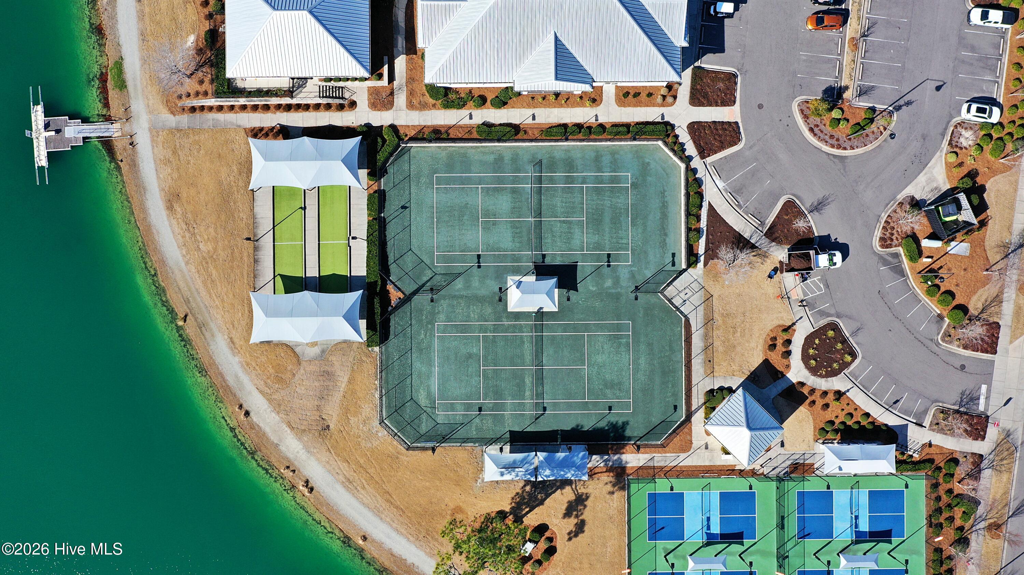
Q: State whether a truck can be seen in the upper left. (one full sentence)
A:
No, the scene shows no truck in the upper left.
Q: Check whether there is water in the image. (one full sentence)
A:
Yes, some water is visible.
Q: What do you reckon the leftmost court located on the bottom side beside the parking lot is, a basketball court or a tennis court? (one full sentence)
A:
Specifically, the leftmost court located on the bottom side beside the parking lot is a tennis court.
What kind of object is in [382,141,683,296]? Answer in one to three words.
tennis court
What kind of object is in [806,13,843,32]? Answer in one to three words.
car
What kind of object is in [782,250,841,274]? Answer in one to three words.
truck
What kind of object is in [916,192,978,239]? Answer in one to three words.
building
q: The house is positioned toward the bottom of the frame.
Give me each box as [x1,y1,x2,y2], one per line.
[701,387,785,469]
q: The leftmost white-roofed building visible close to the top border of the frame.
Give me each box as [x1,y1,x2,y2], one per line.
[224,0,372,80]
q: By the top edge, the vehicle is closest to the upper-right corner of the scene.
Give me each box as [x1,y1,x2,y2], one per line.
[965,7,1016,29]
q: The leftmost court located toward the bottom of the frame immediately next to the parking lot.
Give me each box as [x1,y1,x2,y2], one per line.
[382,293,684,445]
